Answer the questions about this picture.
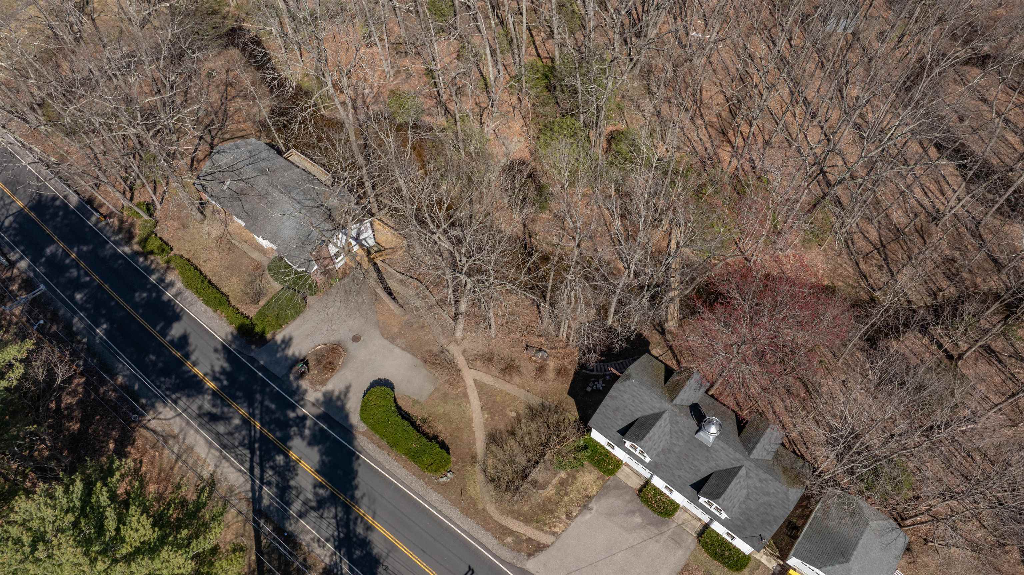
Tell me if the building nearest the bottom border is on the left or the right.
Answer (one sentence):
The building nearest the bottom border sits on the right side.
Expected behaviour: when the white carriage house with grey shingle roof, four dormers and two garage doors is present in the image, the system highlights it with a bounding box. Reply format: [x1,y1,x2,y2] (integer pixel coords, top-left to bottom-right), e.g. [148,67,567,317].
[588,352,810,553]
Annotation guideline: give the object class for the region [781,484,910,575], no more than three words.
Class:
building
